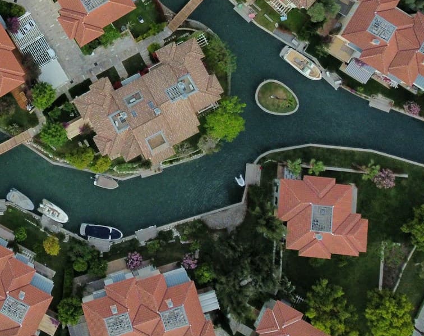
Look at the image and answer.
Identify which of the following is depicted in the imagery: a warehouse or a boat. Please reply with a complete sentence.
There is a boat in the scene.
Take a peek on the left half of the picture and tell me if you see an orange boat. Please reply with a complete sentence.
No, no orange boat is visible on the left half of the picture.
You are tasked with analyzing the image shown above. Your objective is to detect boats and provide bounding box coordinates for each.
[235,174,244,185]
[3,186,34,209]
[89,176,119,190]
[35,197,67,221]
[278,46,321,79]
[77,222,123,239]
